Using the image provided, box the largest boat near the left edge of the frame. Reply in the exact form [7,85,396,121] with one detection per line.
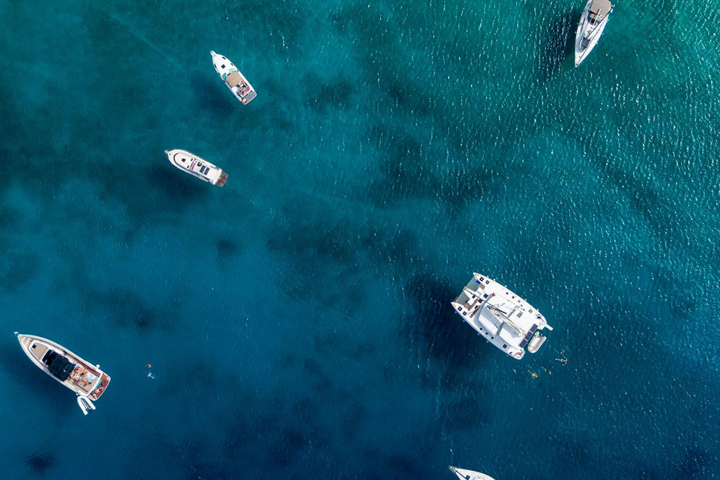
[13,333,110,397]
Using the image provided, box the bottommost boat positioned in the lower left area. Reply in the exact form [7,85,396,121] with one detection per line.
[77,394,95,415]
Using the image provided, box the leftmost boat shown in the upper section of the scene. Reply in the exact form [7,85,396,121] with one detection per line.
[163,148,227,186]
